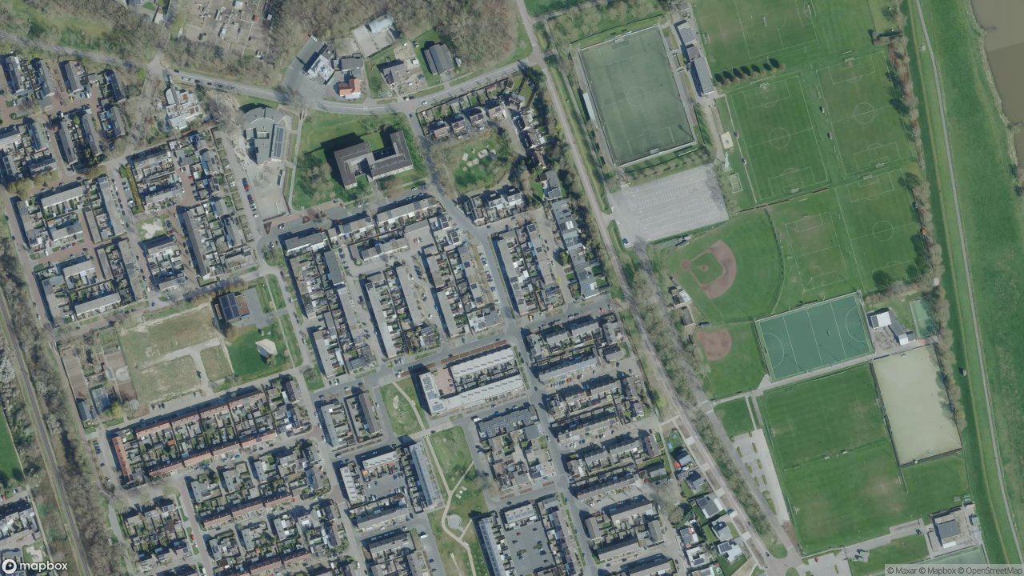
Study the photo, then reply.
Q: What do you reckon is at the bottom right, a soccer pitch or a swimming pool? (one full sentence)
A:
Looking at the bottom right, you will find a soccer pitch.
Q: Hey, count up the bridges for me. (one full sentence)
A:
The picture shows no bridges.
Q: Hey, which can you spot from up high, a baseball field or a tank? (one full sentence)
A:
Looking from above, you can make out a baseball field.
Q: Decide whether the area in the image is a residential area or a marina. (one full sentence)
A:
This image shows a residential area.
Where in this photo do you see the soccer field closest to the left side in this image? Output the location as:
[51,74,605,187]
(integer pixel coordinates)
[580,26,698,165]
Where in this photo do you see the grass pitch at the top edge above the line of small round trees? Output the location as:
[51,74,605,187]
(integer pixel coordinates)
[733,0,820,61]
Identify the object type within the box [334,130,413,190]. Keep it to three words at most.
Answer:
building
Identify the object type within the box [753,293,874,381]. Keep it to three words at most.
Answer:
sports field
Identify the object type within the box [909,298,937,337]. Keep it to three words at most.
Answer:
tennis court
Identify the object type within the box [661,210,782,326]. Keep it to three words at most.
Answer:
baseball field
